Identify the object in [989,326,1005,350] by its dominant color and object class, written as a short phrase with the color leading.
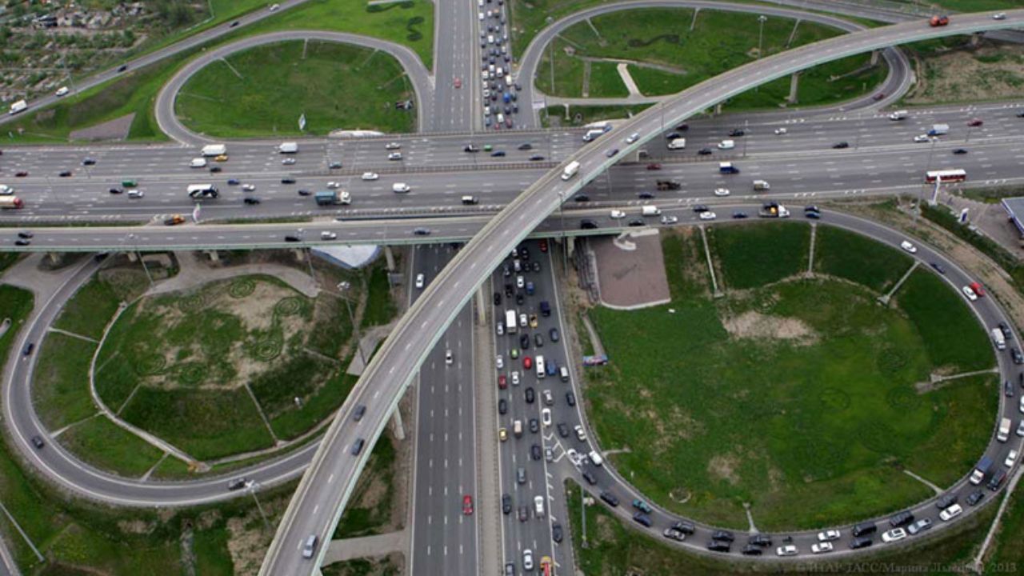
white vehicle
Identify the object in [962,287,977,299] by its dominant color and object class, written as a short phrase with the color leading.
white vehicle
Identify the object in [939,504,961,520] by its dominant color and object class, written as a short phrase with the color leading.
white car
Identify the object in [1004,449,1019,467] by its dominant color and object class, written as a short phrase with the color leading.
white car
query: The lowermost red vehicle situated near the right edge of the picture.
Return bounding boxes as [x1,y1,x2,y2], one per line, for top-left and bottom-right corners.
[968,280,985,295]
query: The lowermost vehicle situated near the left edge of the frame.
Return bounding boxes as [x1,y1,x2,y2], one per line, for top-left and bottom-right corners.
[31,435,45,448]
